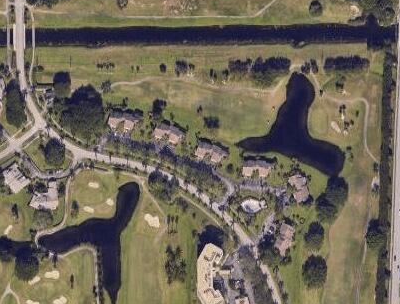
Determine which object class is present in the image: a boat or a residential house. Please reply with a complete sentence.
Of the two, only a residential house appears.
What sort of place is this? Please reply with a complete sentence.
The picture captures a golf course.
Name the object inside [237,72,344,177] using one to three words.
pond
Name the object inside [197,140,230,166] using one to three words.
house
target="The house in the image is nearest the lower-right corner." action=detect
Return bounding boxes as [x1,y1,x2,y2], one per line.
[275,222,296,255]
